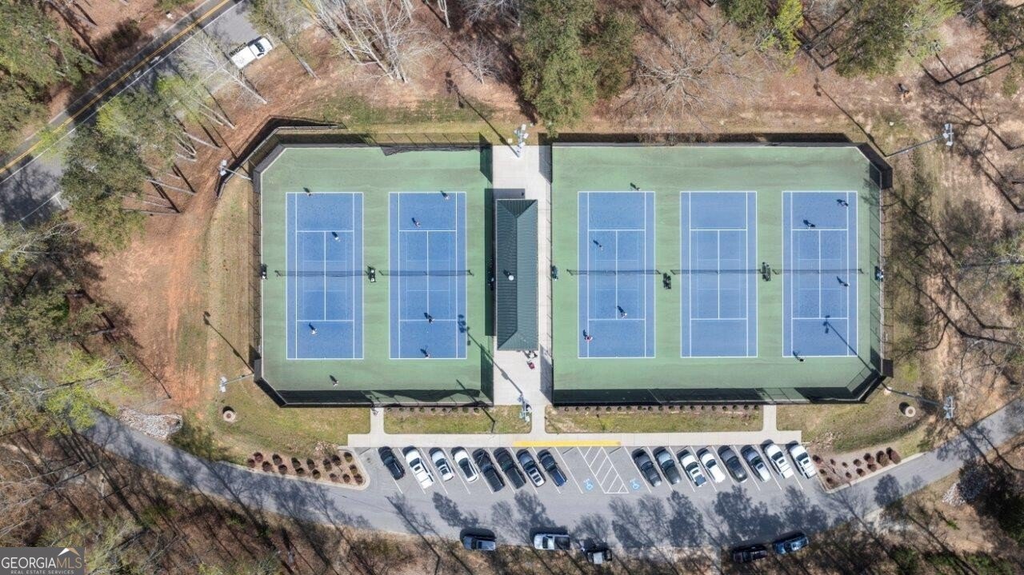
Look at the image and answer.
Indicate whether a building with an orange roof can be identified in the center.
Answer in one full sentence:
No, I see no building with an orange roof in the center.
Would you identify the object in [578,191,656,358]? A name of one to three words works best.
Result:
tennis court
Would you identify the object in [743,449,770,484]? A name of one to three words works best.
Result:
car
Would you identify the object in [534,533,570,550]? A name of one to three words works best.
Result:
vehicle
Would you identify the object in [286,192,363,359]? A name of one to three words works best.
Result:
tennis court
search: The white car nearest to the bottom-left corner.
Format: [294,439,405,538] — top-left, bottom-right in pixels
[404,450,433,488]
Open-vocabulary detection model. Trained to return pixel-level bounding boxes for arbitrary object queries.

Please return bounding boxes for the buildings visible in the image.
[495,199,538,351]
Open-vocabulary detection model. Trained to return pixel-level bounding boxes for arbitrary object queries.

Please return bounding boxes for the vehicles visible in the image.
[496,451,524,488]
[582,545,612,563]
[773,533,808,554]
[636,454,662,489]
[404,450,433,488]
[228,38,274,69]
[701,451,727,486]
[721,449,747,484]
[475,452,504,490]
[743,449,770,484]
[380,447,407,482]
[540,452,566,487]
[789,445,817,481]
[534,533,570,550]
[430,450,455,483]
[454,449,479,483]
[463,534,495,552]
[765,444,793,480]
[518,452,545,487]
[656,453,682,487]
[680,454,707,490]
